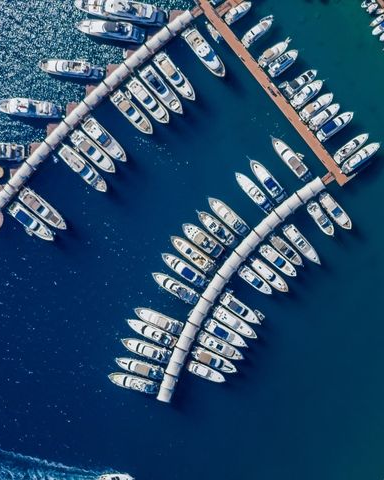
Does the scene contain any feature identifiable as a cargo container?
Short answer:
No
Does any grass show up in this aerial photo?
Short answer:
No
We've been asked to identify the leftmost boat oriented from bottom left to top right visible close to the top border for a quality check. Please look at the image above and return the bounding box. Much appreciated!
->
[226,3,251,26]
